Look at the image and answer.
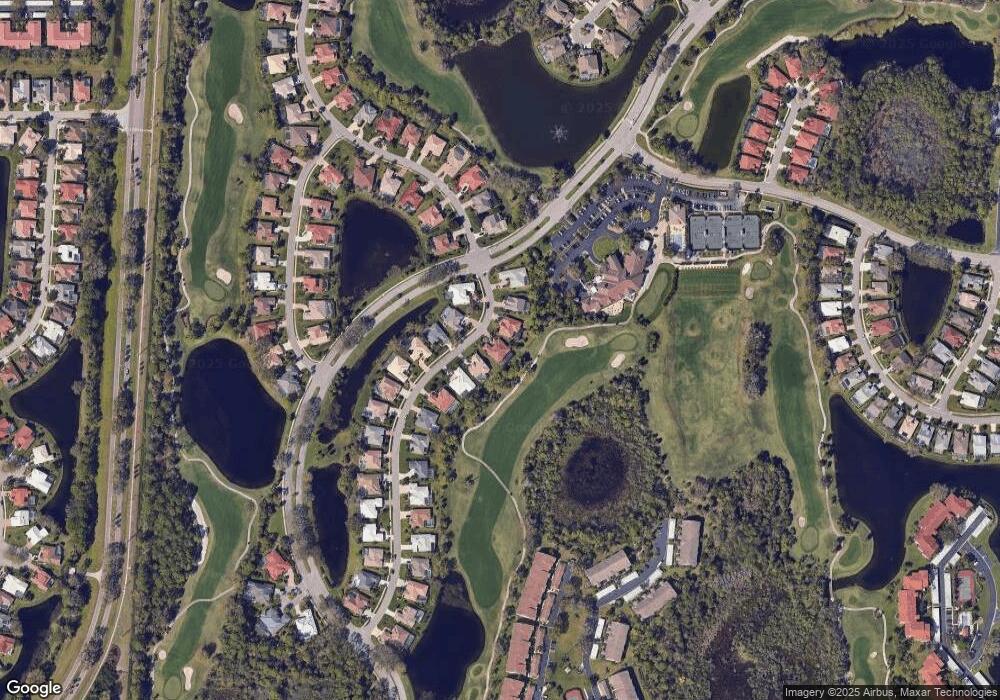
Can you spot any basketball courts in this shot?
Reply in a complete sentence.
No, I can't see a single basketball court in this photo.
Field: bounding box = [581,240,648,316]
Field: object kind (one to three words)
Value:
building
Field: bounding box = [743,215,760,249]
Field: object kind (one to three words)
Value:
tennis court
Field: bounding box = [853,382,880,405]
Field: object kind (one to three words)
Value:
house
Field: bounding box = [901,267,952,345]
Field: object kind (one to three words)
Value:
pond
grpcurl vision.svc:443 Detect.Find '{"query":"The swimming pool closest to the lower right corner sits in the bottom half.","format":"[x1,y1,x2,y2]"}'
[959,611,973,630]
